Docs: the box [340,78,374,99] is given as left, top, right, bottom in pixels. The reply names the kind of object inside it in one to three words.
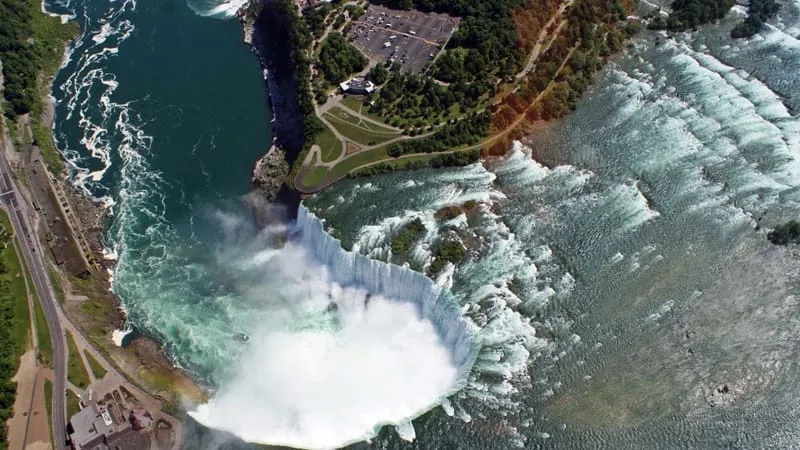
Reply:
building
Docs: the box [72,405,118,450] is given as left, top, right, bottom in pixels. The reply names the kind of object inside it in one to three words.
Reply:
building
